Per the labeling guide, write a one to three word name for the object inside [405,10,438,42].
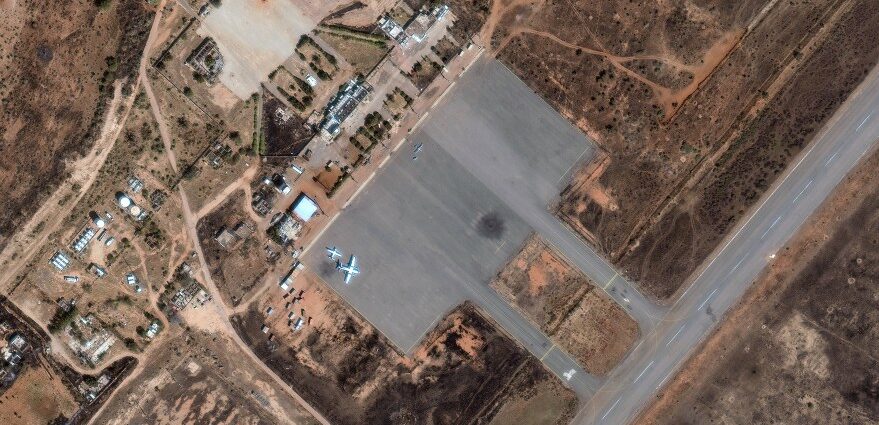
building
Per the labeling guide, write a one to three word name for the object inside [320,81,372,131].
building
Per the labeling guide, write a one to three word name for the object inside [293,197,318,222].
hangar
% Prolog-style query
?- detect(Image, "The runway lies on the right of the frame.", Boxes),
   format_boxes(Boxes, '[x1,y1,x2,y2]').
[561,62,879,425]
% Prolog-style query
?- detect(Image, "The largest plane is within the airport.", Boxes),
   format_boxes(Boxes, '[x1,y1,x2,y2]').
[336,256,360,283]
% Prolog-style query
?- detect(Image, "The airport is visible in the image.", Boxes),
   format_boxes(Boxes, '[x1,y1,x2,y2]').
[299,50,879,425]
